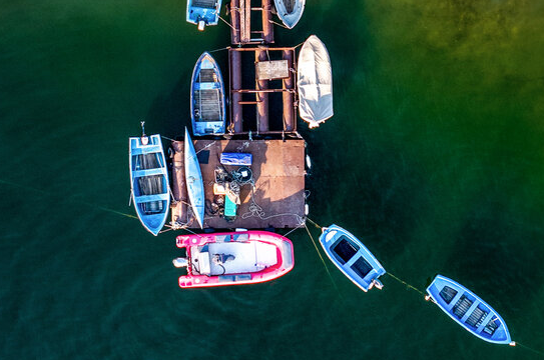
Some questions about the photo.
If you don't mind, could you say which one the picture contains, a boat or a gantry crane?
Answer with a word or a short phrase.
boat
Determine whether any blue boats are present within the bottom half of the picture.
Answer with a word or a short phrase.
Yes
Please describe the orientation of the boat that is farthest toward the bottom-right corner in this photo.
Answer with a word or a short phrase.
at an angle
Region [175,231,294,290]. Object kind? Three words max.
boat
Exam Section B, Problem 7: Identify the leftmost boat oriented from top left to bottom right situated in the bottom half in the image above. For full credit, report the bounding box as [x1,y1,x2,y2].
[321,226,387,292]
